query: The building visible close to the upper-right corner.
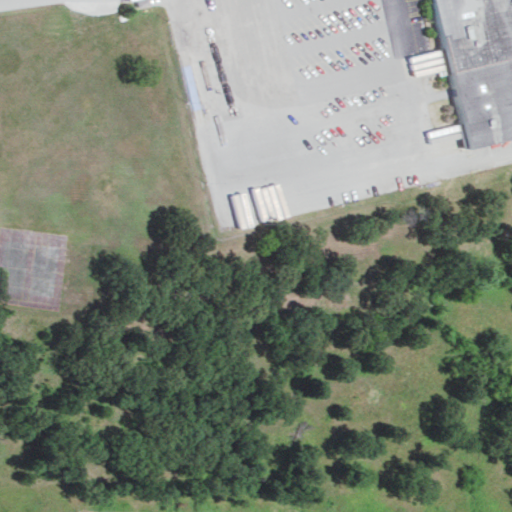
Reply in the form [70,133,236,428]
[434,0,512,148]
